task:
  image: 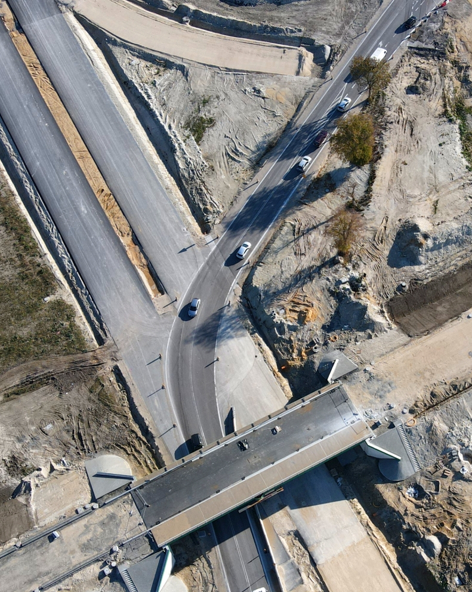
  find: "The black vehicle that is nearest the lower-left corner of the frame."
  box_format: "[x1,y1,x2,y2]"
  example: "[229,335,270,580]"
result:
[189,431,204,451]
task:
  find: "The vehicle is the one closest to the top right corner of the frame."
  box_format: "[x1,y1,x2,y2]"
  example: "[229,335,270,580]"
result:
[405,15,418,28]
